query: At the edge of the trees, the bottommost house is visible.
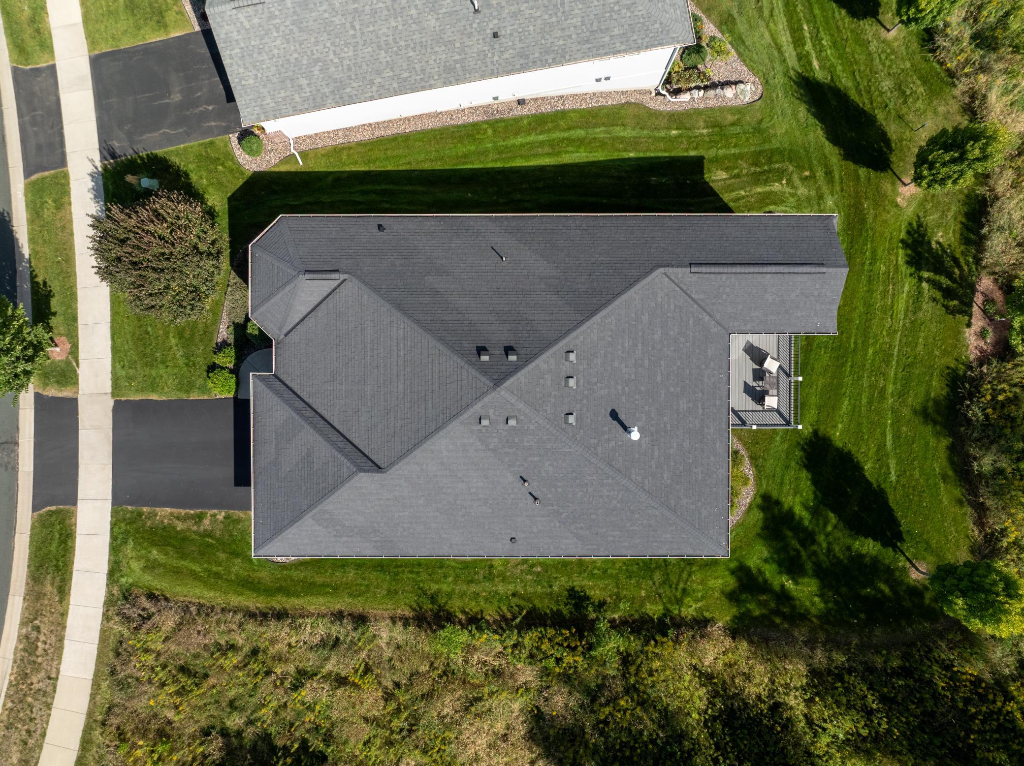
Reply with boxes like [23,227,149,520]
[250,215,848,558]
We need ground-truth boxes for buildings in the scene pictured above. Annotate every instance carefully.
[207,0,695,164]
[250,215,848,558]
